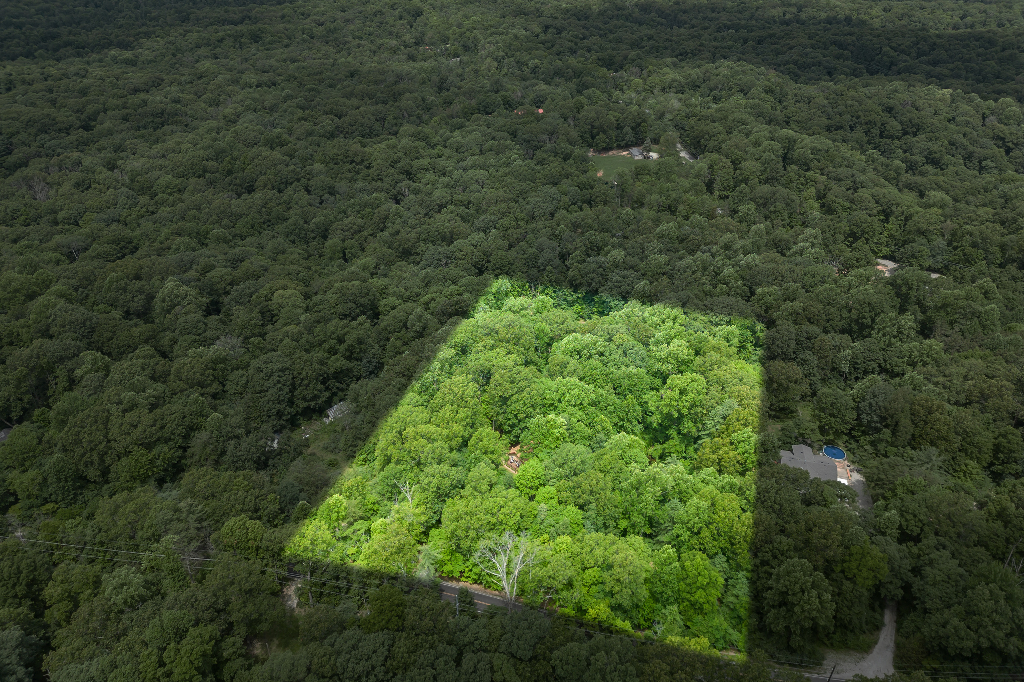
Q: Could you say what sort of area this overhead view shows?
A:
forest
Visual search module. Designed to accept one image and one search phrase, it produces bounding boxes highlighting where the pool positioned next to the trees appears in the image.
[821,445,847,461]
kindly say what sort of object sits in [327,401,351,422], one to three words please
shed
